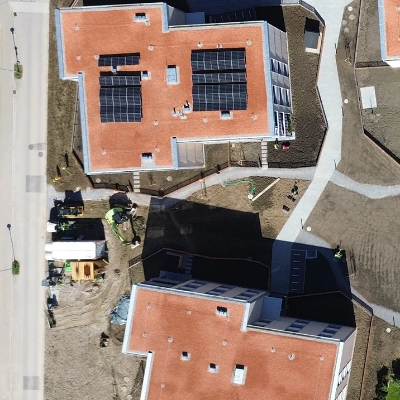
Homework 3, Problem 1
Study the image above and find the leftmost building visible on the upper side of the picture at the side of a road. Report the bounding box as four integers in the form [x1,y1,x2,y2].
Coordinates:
[55,2,296,175]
